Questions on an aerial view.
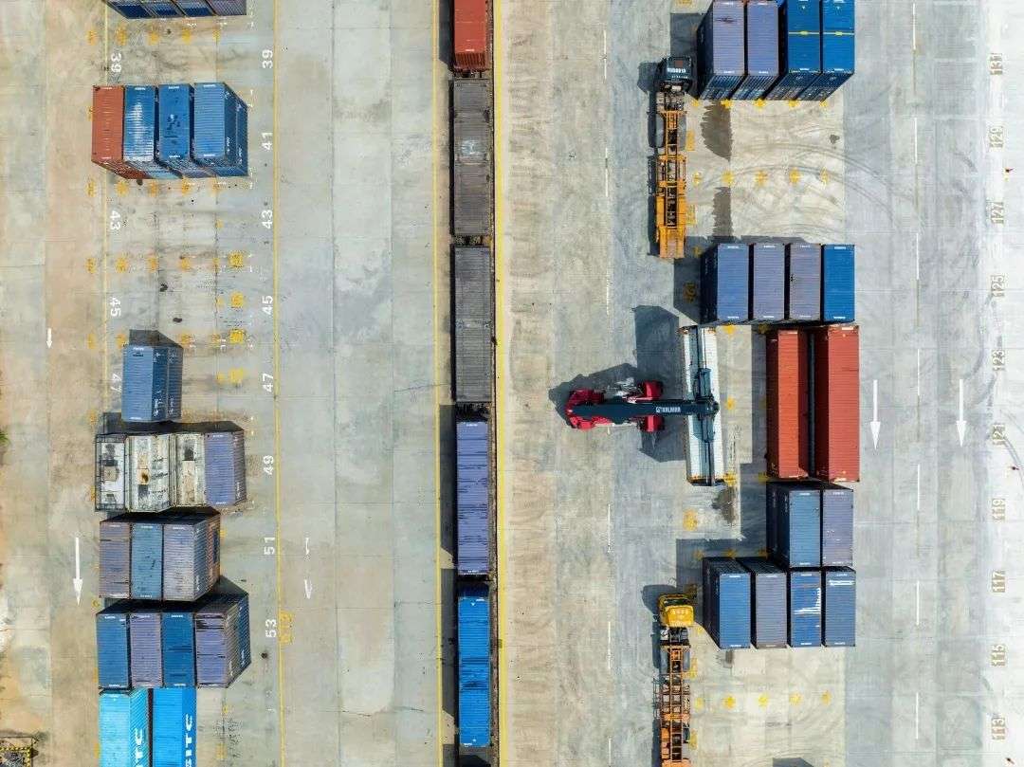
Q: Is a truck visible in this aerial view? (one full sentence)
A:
Yes, there's a truck down there.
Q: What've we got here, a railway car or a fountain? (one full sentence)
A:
I can see a railway car in this picture.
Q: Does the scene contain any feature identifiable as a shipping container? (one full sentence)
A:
Yes, you can see a shipping container in this photo.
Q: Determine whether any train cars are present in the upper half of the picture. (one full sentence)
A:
Yes, in the upper half of the picture there is a train car.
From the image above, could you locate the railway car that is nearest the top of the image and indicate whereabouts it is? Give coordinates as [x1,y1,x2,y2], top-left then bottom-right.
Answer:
[455,0,490,79]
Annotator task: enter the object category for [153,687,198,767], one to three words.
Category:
shipping container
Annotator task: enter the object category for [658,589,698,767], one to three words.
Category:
truck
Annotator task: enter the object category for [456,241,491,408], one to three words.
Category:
rail car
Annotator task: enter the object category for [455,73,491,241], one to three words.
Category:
rail car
